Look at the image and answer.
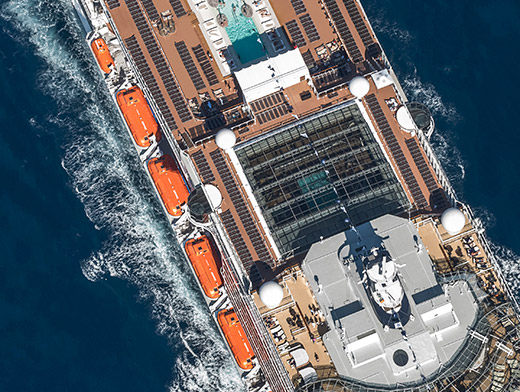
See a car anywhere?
No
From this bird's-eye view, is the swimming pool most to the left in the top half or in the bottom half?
top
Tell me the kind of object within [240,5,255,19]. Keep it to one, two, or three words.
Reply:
umbrella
